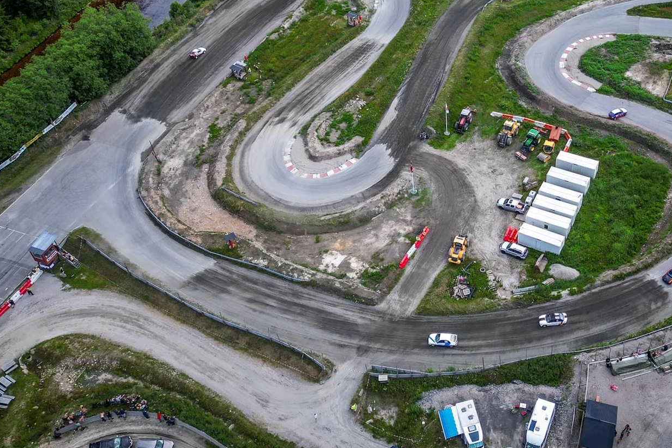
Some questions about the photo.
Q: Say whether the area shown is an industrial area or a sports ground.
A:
sports ground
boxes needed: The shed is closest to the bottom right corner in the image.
[569,399,617,448]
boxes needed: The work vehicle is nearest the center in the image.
[448,230,472,262]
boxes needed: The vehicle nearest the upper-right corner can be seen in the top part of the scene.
[606,108,628,121]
